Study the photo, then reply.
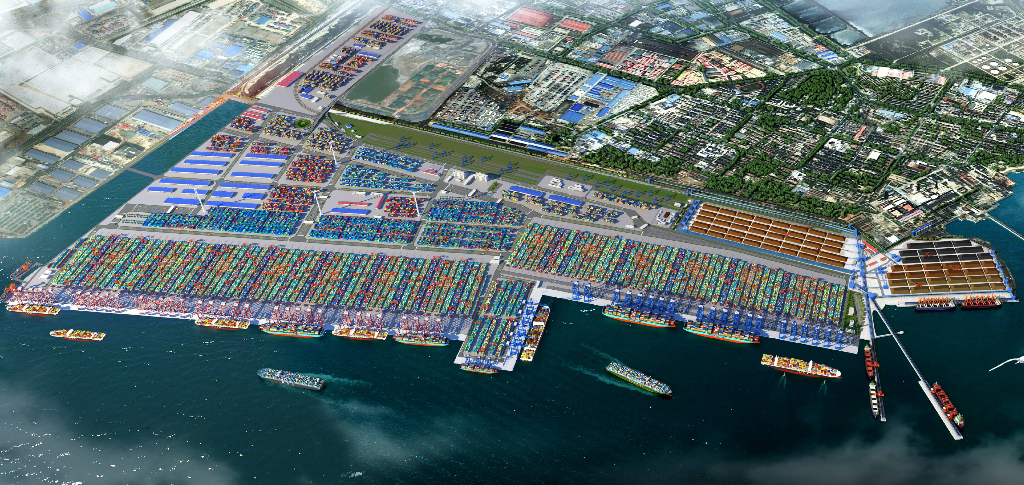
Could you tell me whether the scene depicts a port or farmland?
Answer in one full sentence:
What you see here is a port.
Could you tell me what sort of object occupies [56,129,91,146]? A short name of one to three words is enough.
building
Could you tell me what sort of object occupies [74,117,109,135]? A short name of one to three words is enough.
building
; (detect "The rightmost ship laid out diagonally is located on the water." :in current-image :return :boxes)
[935,383,965,427]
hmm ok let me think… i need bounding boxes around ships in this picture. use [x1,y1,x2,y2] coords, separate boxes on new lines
[607,363,671,396]
[258,326,323,339]
[963,300,1003,308]
[864,345,874,378]
[5,306,58,318]
[459,365,498,375]
[762,357,842,380]
[603,307,677,328]
[257,370,323,391]
[332,329,387,342]
[869,382,879,416]
[521,307,547,363]
[392,337,448,349]
[49,330,104,343]
[916,302,957,310]
[194,320,249,331]
[935,383,965,427]
[684,322,761,345]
